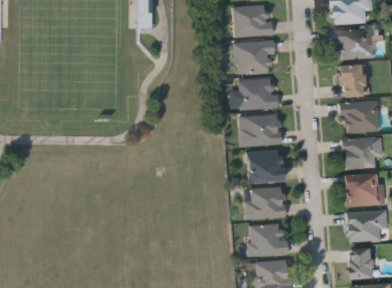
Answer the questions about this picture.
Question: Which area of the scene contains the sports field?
top left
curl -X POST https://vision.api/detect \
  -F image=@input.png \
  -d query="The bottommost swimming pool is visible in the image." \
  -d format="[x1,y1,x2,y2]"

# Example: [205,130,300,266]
[376,258,392,278]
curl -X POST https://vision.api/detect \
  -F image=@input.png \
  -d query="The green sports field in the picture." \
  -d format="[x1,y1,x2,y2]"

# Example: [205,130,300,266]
[8,0,136,121]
